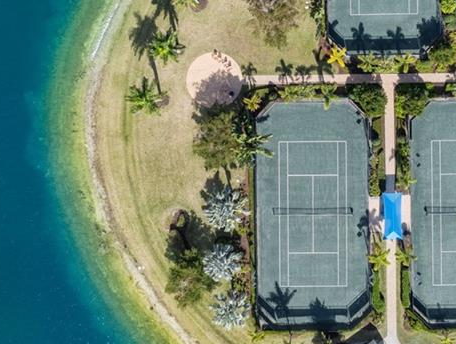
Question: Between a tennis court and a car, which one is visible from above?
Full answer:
Visible in the photo is a tennis court.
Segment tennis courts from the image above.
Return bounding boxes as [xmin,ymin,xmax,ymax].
[327,0,441,52]
[256,100,370,321]
[410,100,456,320]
